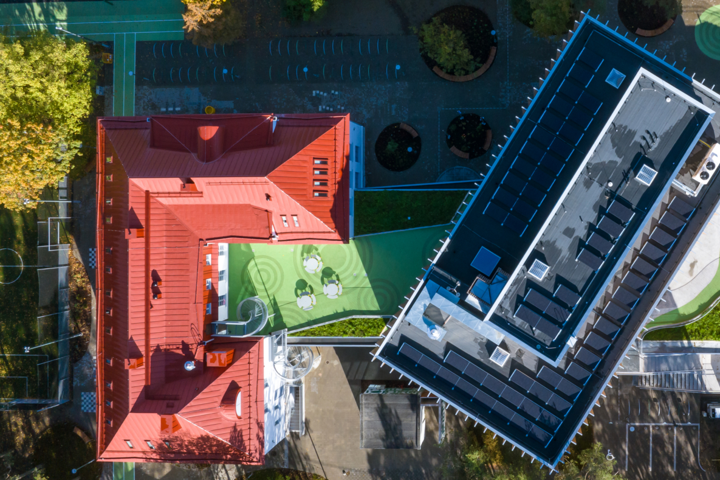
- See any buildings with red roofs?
Yes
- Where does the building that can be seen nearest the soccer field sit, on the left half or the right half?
left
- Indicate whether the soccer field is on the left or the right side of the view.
left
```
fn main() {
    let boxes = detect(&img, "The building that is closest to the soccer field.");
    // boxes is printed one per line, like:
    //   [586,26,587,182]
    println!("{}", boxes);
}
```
[96,115,365,463]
